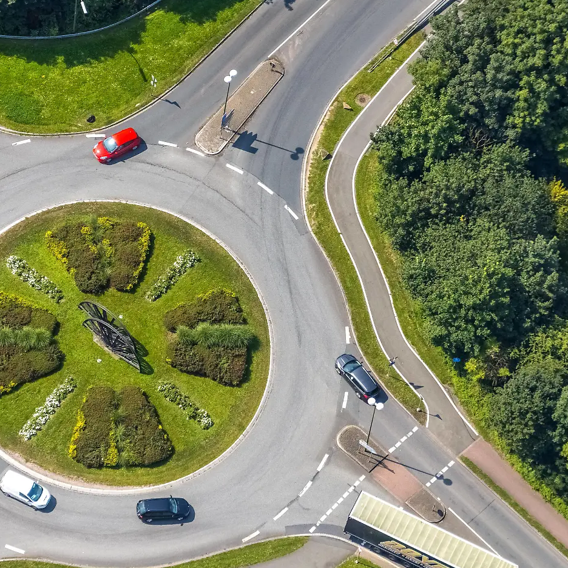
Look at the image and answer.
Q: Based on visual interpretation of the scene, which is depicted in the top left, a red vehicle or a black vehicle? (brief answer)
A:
red vehicle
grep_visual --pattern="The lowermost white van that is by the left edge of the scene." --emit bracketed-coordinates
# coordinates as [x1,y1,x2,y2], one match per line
[0,467,53,512]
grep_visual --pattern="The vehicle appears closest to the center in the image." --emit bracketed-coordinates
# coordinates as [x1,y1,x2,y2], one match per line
[334,352,384,403]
